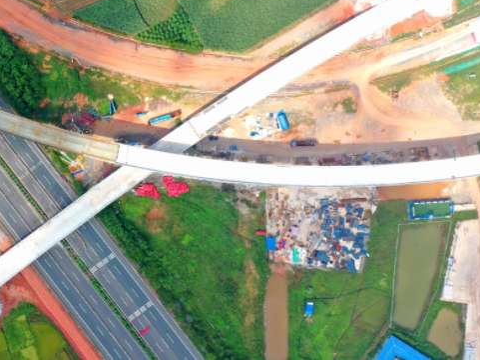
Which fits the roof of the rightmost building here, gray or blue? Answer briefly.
blue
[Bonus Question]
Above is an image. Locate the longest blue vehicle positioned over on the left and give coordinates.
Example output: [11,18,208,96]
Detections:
[150,110,182,124]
